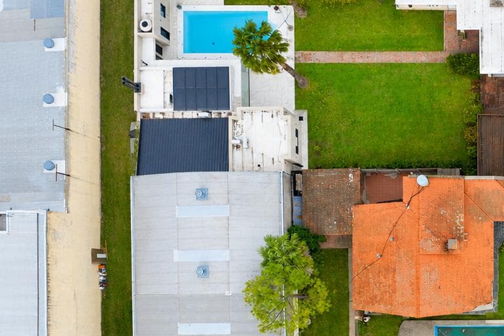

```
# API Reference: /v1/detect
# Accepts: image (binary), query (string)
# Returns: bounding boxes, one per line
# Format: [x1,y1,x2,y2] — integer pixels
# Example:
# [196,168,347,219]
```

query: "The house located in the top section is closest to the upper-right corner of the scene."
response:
[395,0,504,84]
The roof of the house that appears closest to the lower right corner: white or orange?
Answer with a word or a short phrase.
orange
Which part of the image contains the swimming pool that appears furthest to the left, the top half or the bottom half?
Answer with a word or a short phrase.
top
